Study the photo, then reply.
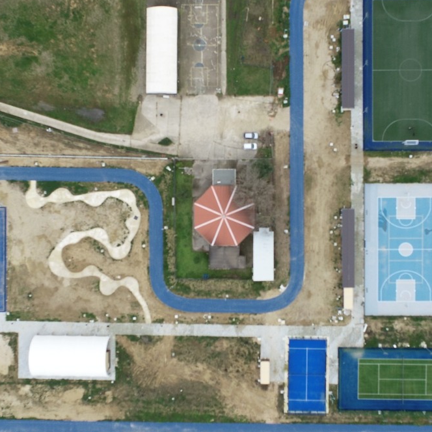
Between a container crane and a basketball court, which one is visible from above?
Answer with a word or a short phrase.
basketball court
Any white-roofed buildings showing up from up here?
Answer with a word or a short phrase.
Yes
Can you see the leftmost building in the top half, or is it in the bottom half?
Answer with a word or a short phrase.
bottom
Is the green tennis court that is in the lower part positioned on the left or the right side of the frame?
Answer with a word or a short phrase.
right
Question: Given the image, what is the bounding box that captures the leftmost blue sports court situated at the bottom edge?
[285,337,329,414]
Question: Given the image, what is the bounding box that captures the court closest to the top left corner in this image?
[146,0,221,95]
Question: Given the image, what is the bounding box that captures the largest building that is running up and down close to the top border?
[147,3,180,96]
